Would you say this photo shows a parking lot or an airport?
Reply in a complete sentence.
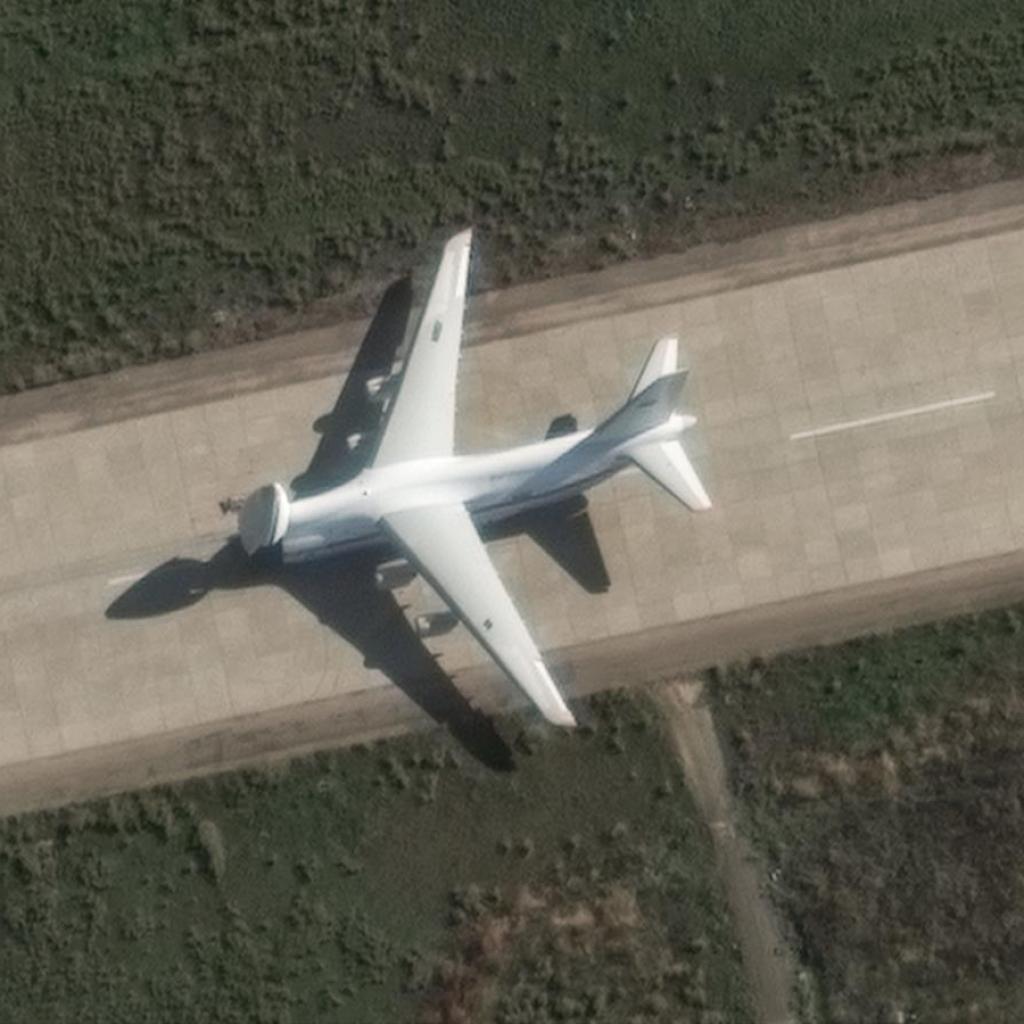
This looks like an airport.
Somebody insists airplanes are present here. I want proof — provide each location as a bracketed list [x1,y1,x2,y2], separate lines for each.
[238,230,712,727]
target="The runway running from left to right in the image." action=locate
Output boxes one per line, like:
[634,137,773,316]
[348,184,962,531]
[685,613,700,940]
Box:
[0,231,1024,767]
